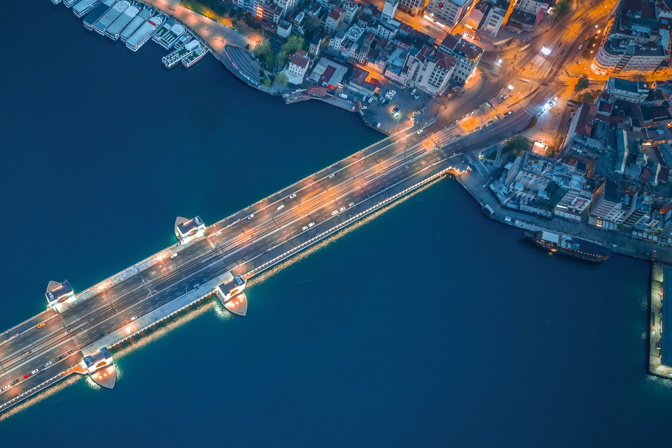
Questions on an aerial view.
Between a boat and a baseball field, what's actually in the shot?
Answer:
boat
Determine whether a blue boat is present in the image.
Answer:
Yes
